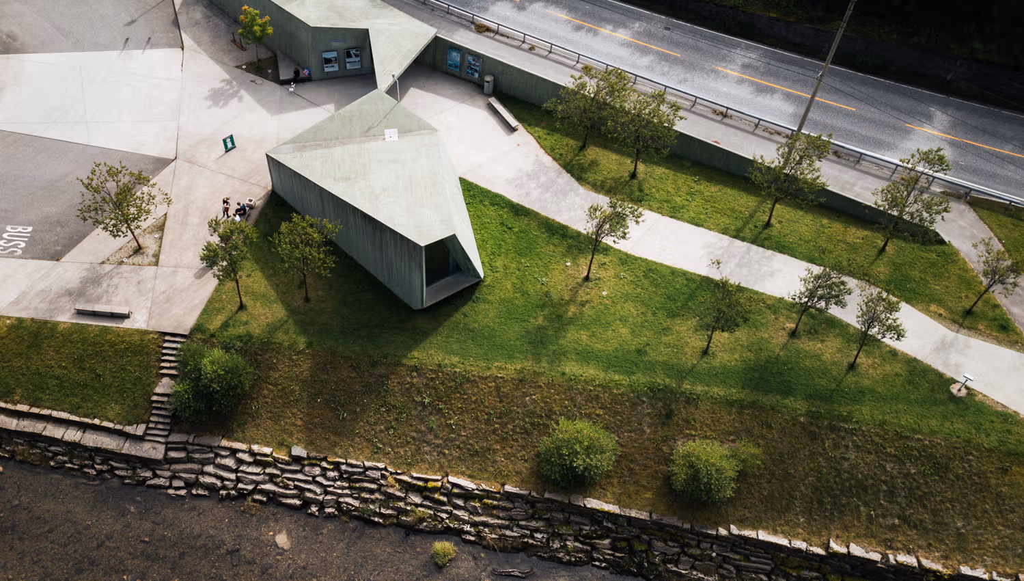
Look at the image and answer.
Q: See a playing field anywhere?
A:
No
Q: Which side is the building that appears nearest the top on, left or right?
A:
left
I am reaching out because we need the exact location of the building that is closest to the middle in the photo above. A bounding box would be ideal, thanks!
[267,90,482,309]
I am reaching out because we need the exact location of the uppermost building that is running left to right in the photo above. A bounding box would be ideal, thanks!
[211,0,437,95]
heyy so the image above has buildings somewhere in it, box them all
[211,0,437,95]
[267,90,482,309]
